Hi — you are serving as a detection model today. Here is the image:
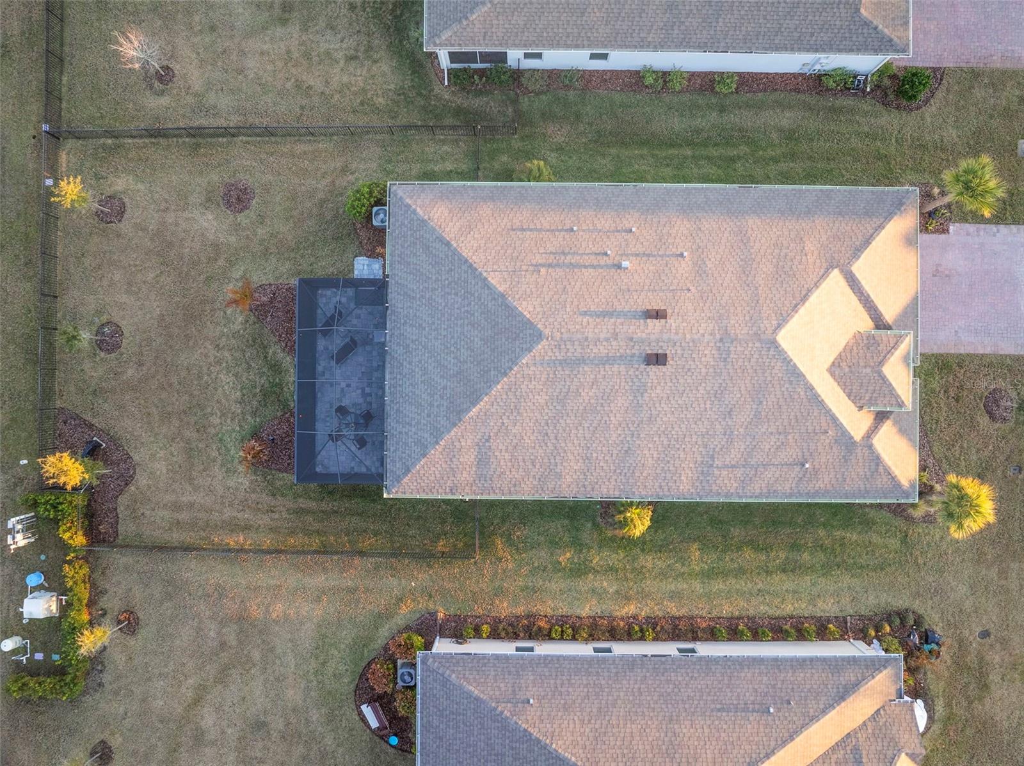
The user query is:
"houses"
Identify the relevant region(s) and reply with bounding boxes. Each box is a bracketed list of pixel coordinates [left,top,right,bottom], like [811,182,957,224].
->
[423,0,913,83]
[384,182,920,503]
[416,630,925,766]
